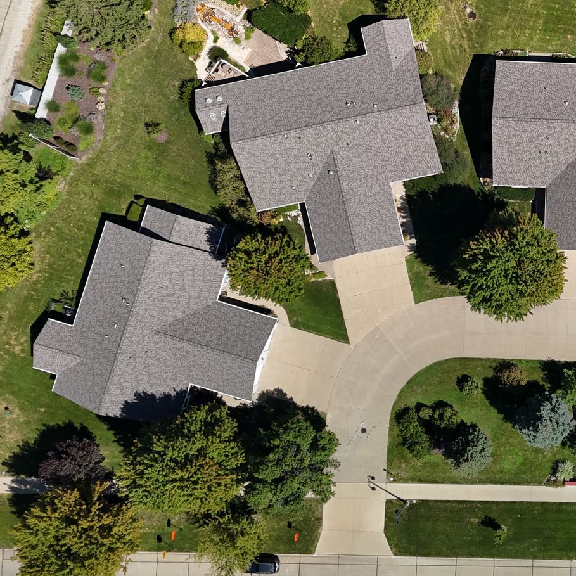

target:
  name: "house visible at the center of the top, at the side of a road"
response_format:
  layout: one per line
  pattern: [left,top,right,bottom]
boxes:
[195,19,443,264]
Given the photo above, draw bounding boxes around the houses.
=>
[492,61,576,251]
[195,19,443,264]
[32,204,281,424]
